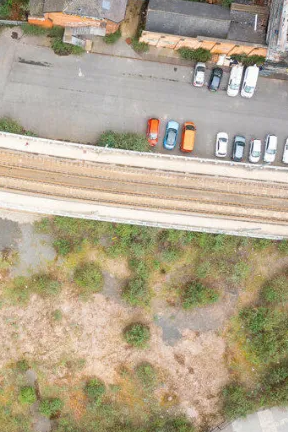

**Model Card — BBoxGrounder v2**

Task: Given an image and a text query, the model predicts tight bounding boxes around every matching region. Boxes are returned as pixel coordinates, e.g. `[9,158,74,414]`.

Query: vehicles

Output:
[213,131,230,160]
[230,134,248,164]
[179,122,197,153]
[191,62,208,88]
[262,133,280,164]
[238,63,262,101]
[146,118,160,148]
[207,66,224,93]
[162,120,179,151]
[248,137,263,165]
[224,62,246,100]
[280,136,288,166]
